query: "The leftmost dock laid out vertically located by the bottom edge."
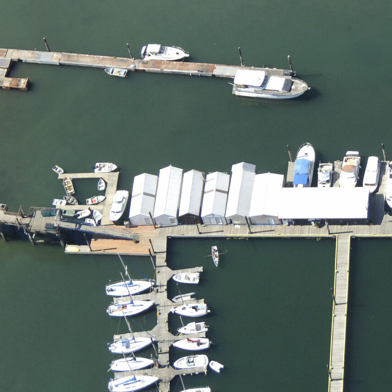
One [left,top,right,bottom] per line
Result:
[156,237,170,392]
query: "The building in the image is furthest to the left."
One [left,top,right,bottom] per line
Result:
[129,172,157,224]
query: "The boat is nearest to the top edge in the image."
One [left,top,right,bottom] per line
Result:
[142,42,189,60]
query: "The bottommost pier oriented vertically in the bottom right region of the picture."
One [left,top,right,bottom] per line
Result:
[328,236,350,392]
